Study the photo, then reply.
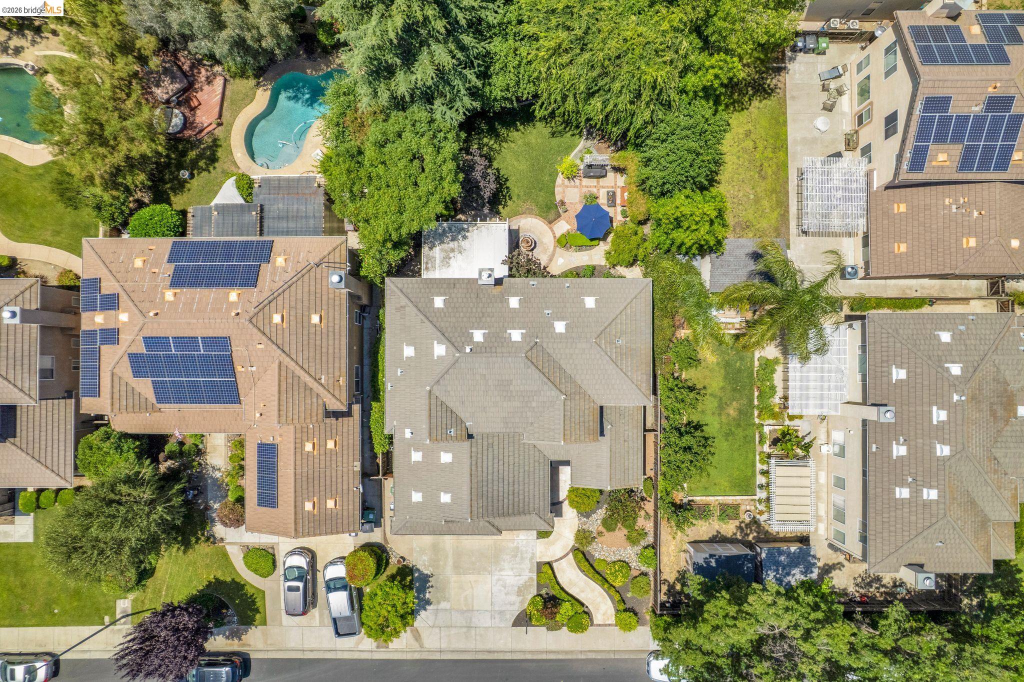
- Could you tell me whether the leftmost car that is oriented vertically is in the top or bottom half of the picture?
bottom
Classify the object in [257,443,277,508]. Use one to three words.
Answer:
solar array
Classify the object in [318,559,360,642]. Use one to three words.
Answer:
truck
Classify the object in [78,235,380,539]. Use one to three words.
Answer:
house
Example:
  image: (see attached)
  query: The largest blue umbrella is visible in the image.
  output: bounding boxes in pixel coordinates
[574,204,611,241]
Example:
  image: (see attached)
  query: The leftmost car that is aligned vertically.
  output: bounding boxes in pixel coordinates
[277,551,312,621]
